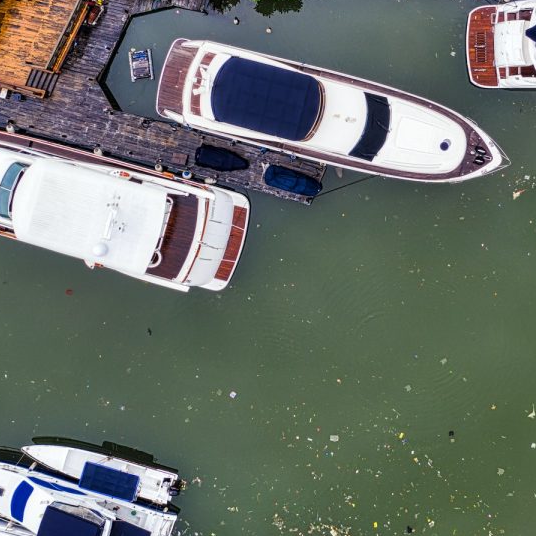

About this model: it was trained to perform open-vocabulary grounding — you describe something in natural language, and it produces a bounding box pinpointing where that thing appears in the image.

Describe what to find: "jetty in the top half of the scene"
[0,0,327,204]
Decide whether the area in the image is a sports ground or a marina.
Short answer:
marina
